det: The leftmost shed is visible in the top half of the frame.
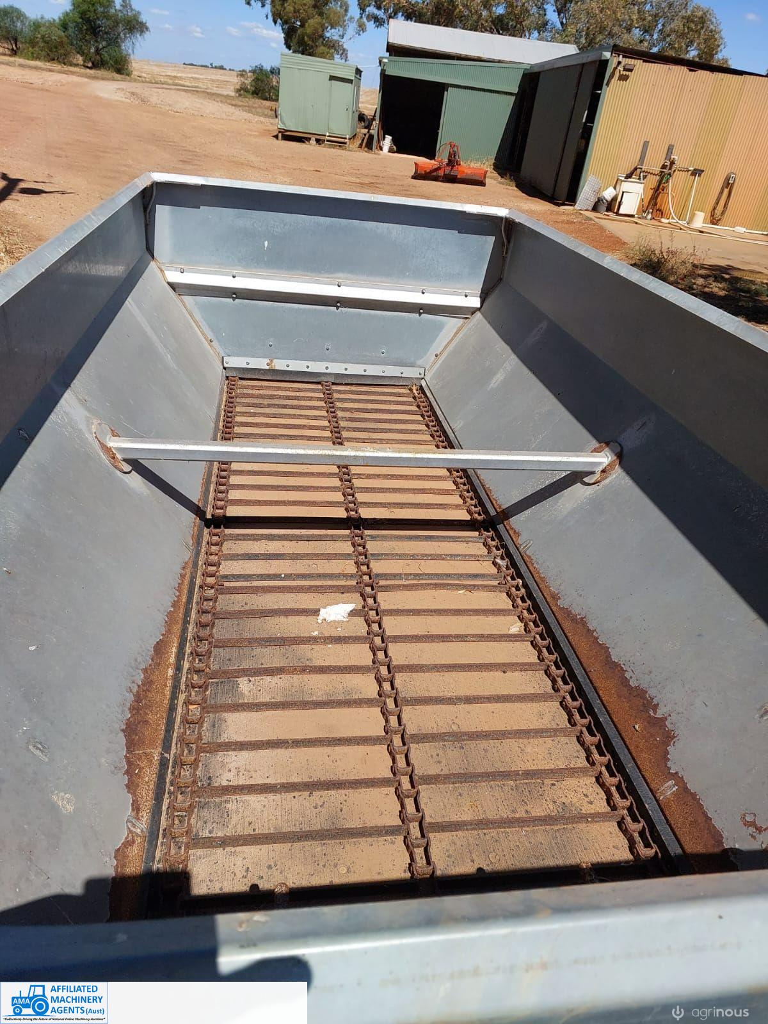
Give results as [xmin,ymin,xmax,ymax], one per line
[277,52,365,148]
